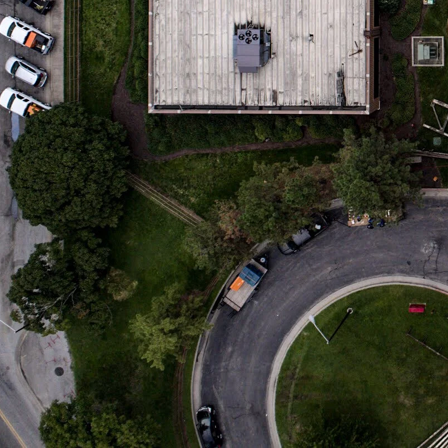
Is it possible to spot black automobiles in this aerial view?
Yes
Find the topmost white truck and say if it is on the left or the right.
left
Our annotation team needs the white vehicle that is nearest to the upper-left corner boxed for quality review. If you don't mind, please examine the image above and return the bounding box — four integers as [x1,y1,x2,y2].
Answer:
[0,14,59,55]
